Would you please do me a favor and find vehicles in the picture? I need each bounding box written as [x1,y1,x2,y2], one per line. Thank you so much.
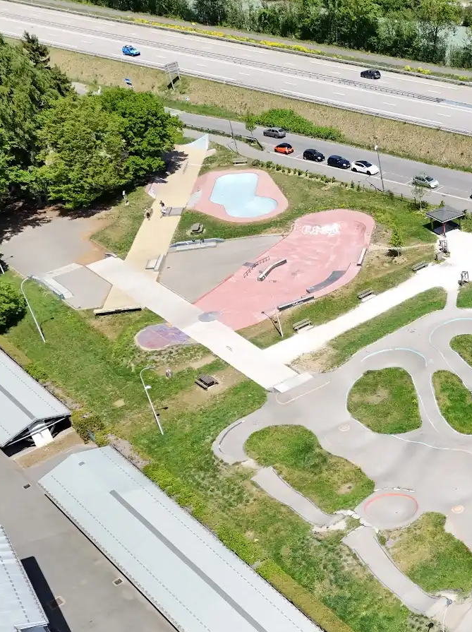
[348,160,378,174]
[410,171,439,189]
[121,45,140,55]
[324,152,351,169]
[262,125,287,137]
[300,148,325,162]
[272,140,294,153]
[358,67,380,78]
